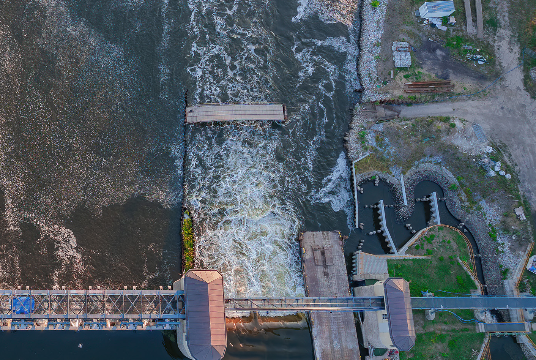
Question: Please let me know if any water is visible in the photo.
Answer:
Yes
